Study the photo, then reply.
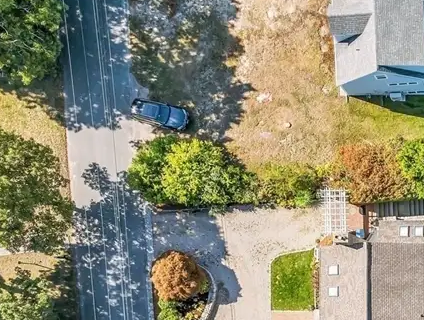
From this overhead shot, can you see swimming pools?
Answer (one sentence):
No, there isn't any swimming pool down there.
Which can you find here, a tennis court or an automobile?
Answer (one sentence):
The image shows an automobile.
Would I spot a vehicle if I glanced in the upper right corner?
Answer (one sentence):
No, I see no vehicle in the upper right corner.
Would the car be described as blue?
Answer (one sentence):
Yes, the car is blue.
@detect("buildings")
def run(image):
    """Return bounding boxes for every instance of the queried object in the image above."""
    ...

[310,215,424,320]
[329,0,424,92]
